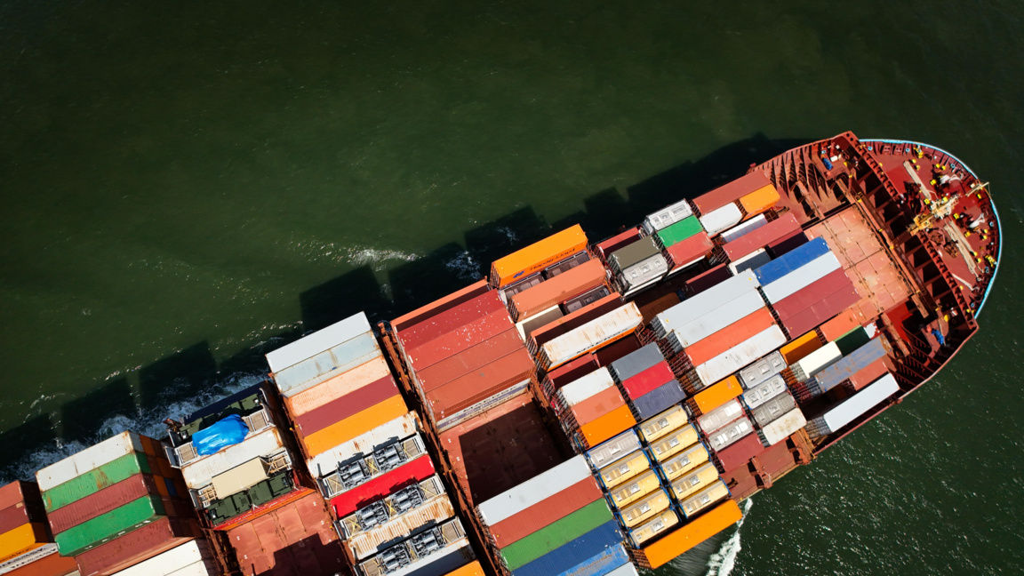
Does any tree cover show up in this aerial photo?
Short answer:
No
